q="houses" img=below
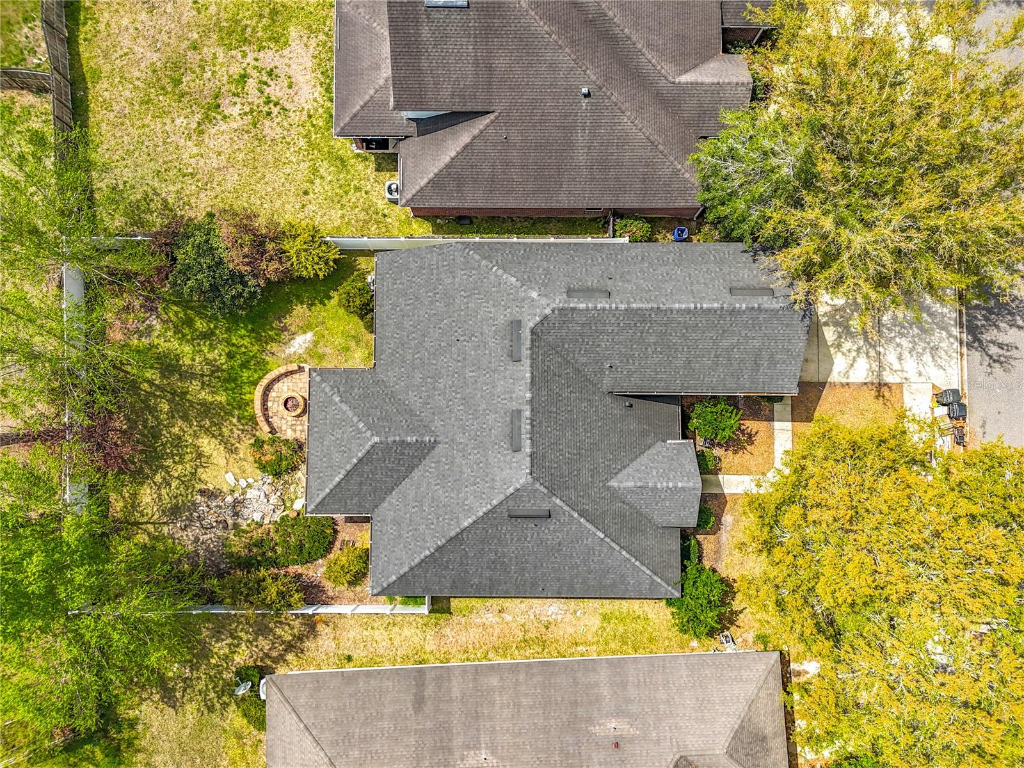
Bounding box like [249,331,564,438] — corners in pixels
[331,0,787,220]
[264,646,787,768]
[304,242,813,599]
